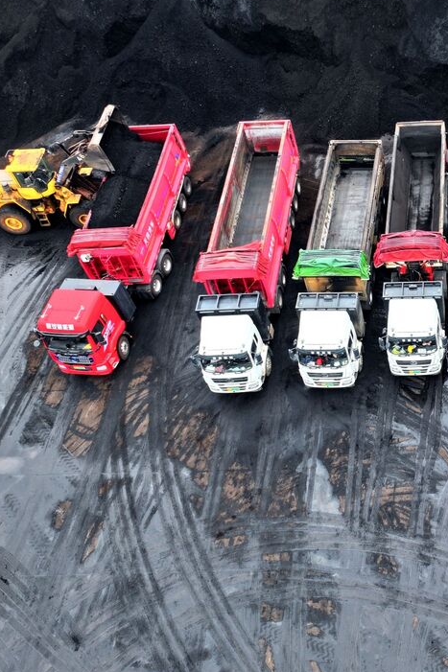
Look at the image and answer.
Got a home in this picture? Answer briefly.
No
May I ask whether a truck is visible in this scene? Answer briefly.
Yes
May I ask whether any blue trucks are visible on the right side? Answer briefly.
No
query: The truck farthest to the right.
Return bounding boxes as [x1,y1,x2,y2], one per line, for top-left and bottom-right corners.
[373,120,448,374]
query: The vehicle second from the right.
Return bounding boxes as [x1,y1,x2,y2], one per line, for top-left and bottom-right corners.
[283,139,386,387]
